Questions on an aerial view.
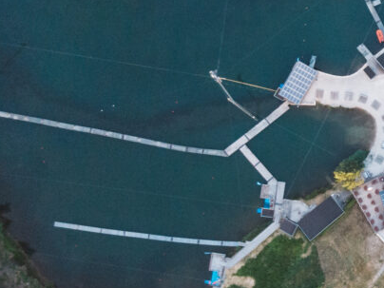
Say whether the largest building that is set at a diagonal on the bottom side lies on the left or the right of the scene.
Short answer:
right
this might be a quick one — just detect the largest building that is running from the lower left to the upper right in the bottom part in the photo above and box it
[297,195,345,240]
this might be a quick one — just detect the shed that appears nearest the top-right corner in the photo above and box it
[274,57,319,105]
